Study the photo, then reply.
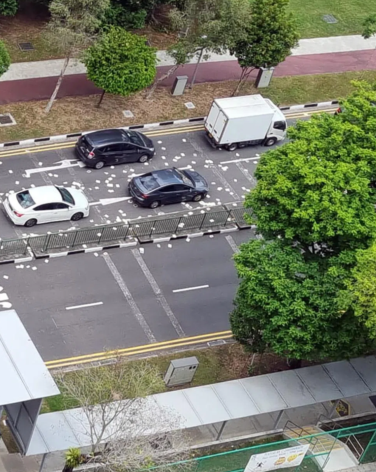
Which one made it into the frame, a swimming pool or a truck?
truck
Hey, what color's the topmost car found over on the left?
black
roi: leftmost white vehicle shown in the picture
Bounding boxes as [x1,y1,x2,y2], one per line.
[4,183,94,228]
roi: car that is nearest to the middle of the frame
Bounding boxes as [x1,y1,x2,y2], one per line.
[128,166,214,210]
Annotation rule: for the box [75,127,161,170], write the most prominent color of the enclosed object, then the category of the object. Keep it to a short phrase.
black car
